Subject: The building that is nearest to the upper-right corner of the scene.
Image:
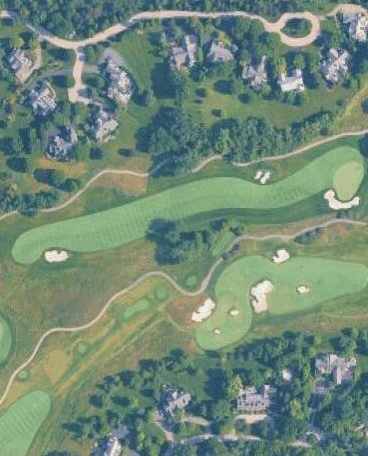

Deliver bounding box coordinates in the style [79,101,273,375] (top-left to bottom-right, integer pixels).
[342,11,368,42]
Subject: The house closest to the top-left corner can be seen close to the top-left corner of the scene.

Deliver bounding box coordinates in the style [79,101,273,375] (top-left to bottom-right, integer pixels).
[6,47,34,83]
